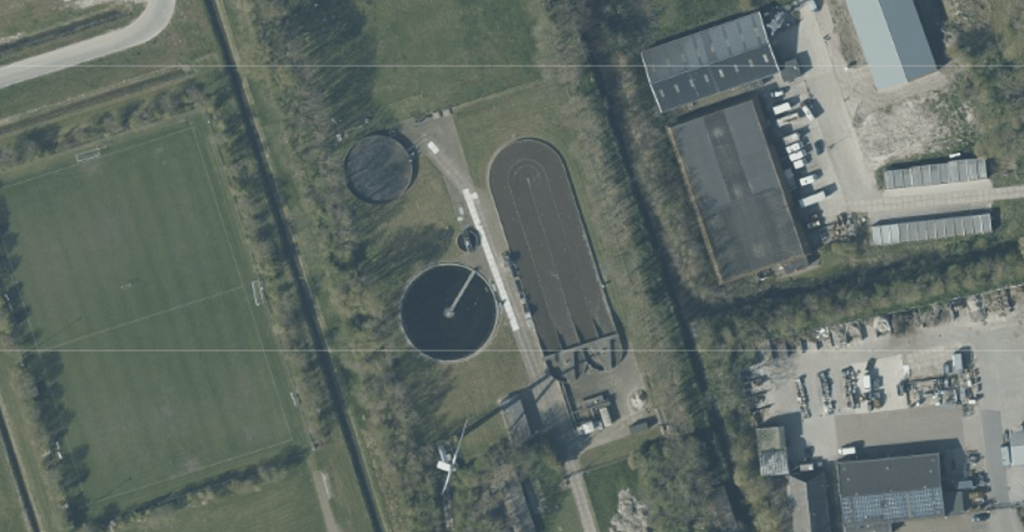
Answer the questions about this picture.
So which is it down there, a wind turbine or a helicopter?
wind turbine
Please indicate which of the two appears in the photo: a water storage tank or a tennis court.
water storage tank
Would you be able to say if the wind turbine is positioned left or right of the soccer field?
on its right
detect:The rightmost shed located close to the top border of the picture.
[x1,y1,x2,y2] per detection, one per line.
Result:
[845,0,937,91]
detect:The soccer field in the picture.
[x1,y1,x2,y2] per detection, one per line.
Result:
[0,117,300,516]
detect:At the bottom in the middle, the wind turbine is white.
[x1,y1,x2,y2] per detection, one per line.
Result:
[434,420,469,497]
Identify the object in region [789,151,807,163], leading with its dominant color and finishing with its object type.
white vehicle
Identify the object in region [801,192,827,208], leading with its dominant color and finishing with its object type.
white vehicle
